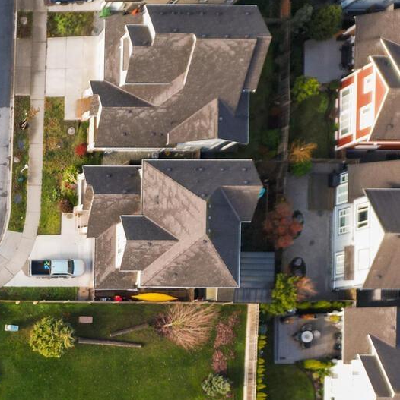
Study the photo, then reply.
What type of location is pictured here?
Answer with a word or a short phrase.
residential area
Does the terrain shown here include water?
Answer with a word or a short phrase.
No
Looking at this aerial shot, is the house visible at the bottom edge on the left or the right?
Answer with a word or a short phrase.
right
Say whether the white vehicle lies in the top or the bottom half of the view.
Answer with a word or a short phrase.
bottom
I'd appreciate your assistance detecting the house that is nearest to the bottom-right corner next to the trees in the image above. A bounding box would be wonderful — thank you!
[323,304,400,400]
